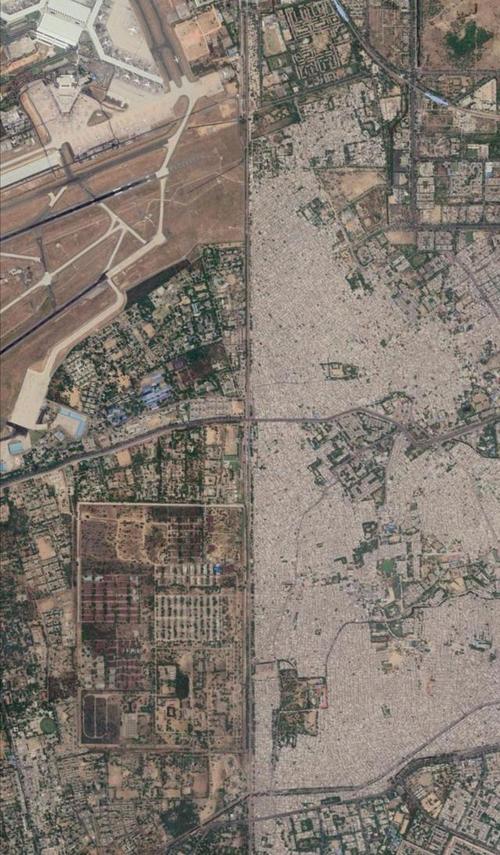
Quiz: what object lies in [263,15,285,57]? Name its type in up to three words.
sports field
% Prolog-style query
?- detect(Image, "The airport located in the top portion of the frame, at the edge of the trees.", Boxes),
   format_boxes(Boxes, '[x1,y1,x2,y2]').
[0,0,242,473]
